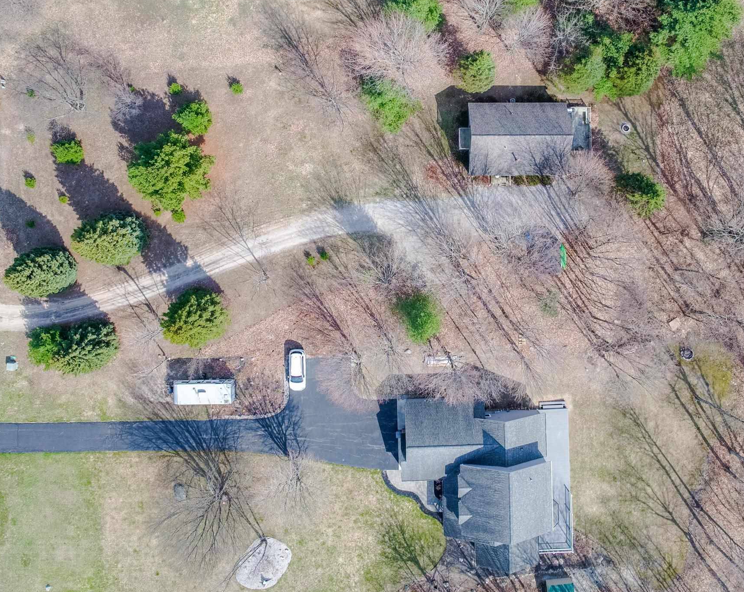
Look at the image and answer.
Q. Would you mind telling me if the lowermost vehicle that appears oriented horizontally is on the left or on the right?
left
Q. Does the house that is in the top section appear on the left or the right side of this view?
right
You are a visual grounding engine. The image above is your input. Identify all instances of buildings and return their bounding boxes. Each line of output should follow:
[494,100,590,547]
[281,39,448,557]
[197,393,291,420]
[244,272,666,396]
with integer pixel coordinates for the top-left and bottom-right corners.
[546,576,574,592]
[395,392,574,575]
[458,101,595,192]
